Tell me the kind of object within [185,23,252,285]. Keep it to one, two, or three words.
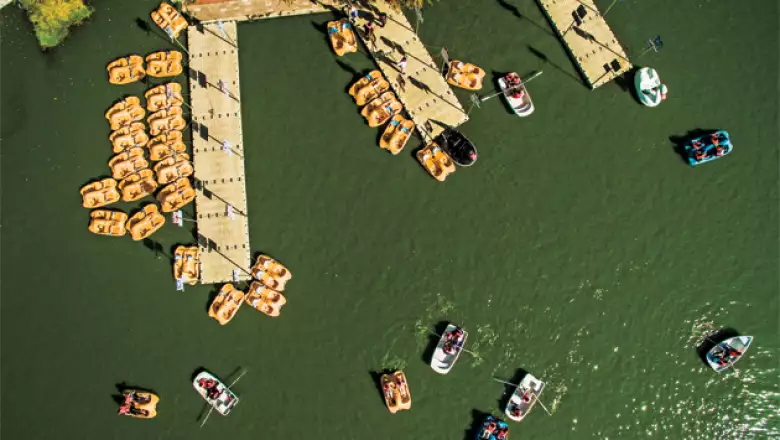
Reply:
pier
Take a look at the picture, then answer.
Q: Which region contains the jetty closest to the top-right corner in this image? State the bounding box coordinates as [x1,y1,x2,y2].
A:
[533,0,634,91]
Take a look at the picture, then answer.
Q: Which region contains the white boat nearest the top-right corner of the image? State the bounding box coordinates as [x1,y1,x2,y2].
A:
[633,67,666,108]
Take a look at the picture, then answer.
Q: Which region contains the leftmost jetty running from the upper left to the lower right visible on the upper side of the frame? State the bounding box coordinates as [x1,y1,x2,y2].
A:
[340,0,470,145]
